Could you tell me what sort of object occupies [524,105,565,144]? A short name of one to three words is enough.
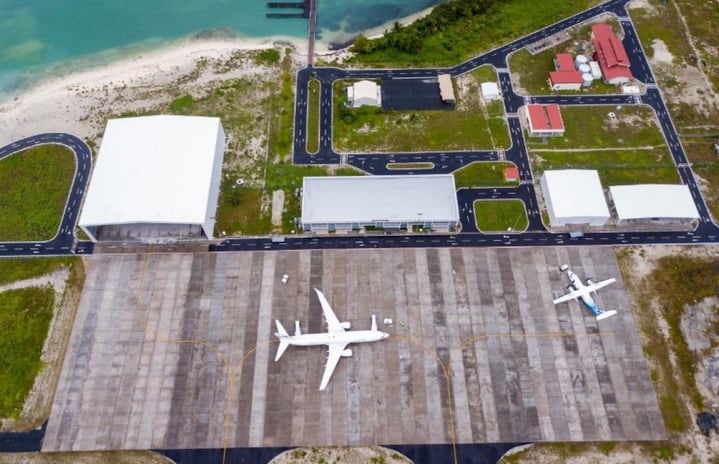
building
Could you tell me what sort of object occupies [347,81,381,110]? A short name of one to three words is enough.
house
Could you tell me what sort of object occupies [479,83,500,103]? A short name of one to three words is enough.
shed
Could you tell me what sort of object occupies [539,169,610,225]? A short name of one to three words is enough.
building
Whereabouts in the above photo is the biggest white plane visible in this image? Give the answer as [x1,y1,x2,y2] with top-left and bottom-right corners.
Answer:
[270,288,390,392]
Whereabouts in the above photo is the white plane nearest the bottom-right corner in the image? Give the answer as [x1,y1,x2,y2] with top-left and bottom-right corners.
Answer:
[551,270,617,324]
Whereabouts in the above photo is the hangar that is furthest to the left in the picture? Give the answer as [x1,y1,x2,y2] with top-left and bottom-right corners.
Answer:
[79,116,227,241]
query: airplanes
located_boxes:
[270,288,390,392]
[551,270,617,324]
